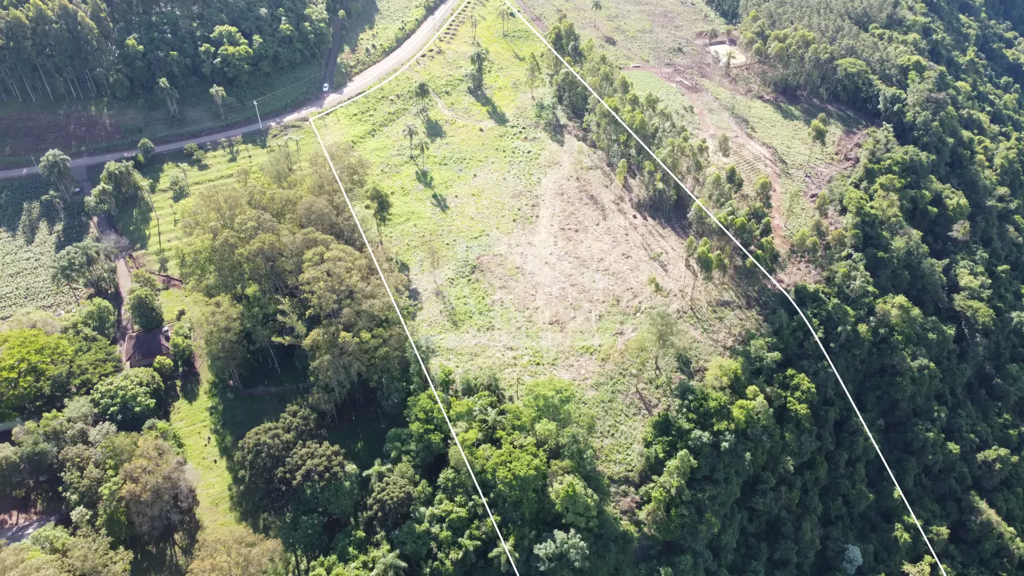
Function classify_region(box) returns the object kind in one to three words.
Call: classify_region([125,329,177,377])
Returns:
house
